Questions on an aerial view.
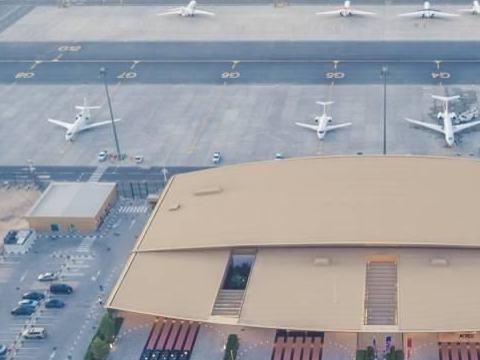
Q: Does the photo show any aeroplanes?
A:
Yes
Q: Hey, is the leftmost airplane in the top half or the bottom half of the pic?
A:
top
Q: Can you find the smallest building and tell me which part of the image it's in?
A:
left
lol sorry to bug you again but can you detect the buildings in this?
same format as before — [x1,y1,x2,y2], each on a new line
[103,155,480,334]
[21,181,118,235]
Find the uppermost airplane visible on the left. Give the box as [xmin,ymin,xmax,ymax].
[154,2,215,18]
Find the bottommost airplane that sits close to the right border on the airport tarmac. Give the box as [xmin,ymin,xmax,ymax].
[405,96,480,146]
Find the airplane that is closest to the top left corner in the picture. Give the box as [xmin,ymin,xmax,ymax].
[47,97,121,141]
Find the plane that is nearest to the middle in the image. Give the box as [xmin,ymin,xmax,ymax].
[295,101,351,143]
